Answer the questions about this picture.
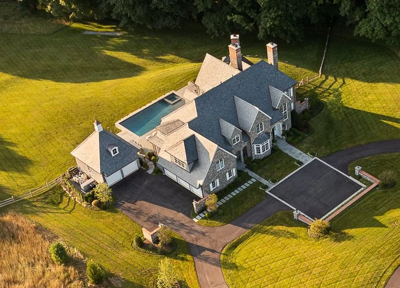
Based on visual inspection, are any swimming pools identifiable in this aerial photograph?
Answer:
Yes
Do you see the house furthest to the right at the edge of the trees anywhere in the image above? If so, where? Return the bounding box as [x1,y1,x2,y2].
[143,35,296,197]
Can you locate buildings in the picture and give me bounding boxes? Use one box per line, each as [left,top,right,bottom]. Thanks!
[143,35,296,197]
[68,115,141,186]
